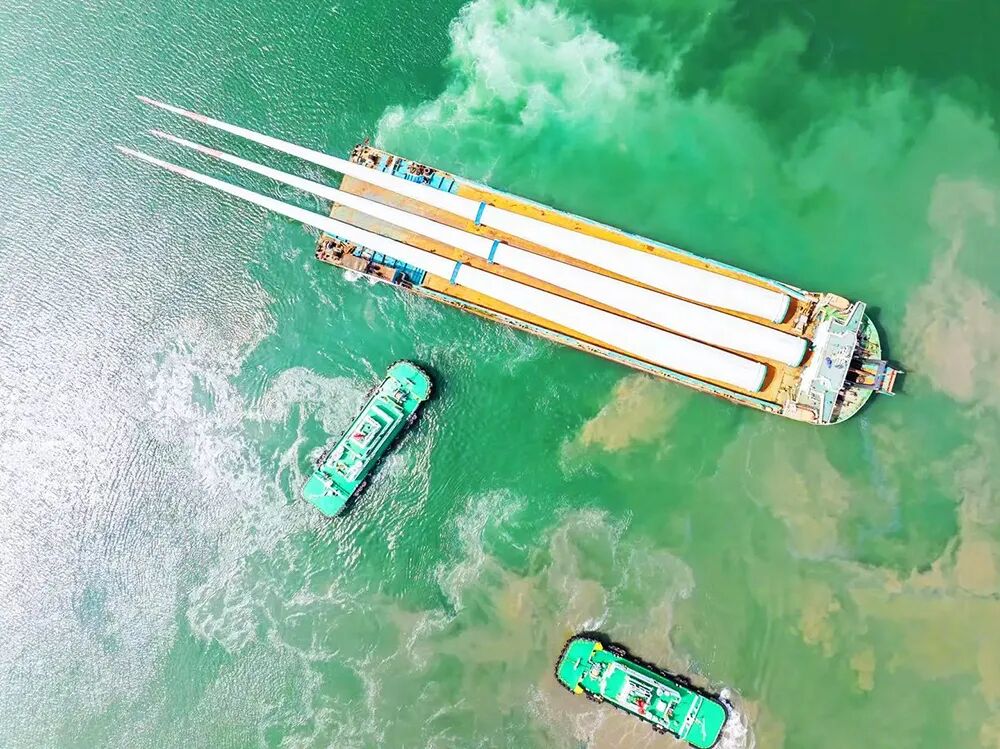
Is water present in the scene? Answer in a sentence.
Yes, the picture does contain water.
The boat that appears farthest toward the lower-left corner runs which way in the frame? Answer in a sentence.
The boat that appears farthest toward the lower-left corner is oriented on a diagonal.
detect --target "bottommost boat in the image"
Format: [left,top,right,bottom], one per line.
[555,631,726,746]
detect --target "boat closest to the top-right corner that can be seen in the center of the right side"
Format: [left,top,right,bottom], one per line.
[824,295,848,308]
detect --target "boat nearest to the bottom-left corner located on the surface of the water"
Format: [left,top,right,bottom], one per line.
[303,356,438,515]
